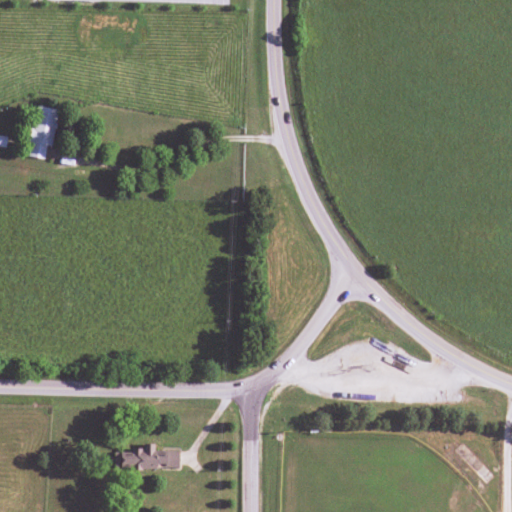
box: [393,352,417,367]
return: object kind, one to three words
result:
vehicle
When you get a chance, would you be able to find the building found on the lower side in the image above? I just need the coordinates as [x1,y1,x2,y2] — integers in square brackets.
[116,444,180,472]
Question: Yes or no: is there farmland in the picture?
Yes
